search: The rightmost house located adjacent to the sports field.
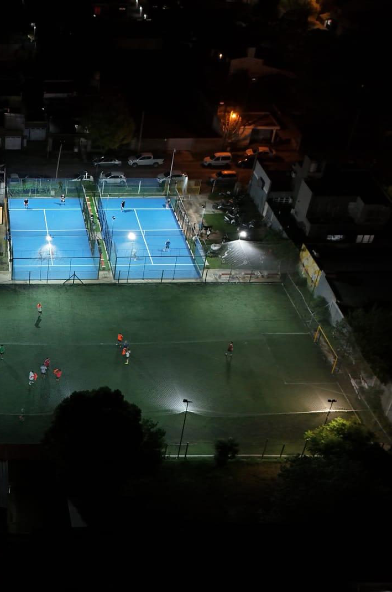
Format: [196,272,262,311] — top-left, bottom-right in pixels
[274,145,387,239]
